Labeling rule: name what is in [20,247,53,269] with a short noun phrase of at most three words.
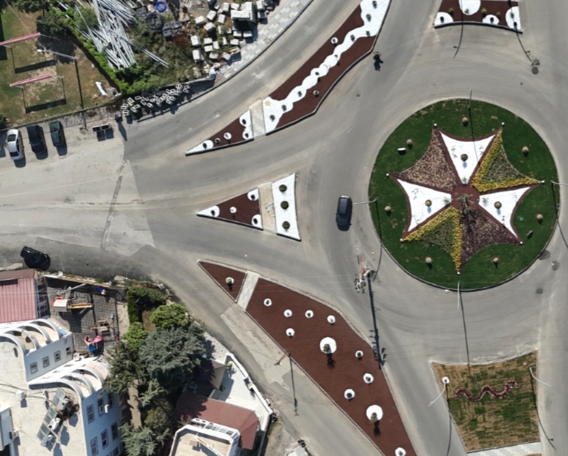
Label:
car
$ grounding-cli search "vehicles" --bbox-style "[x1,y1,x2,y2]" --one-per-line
[20,247,53,269]
[335,194,352,230]
[7,128,26,161]
[49,120,68,147]
[28,121,49,156]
